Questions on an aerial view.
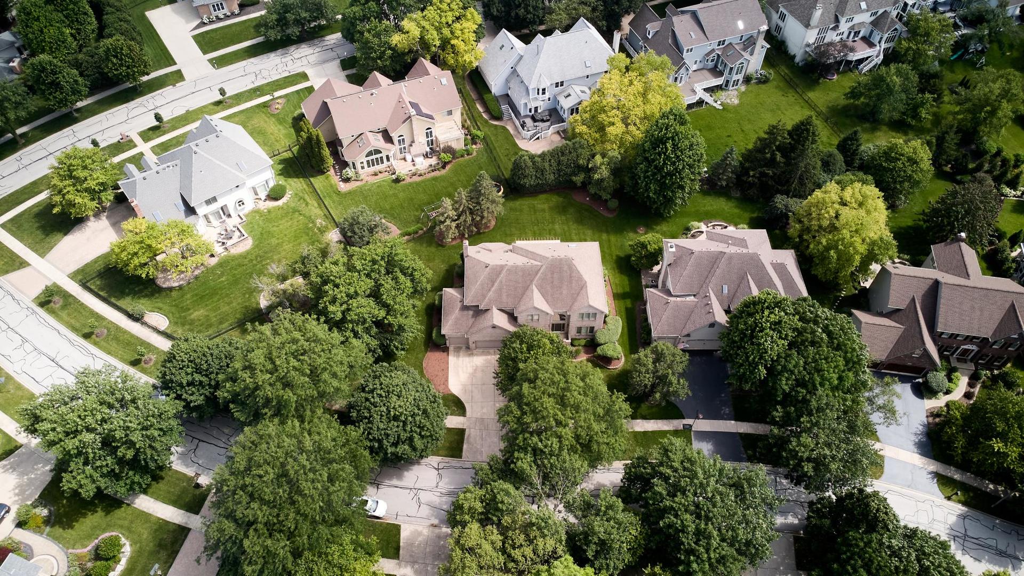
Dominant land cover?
trees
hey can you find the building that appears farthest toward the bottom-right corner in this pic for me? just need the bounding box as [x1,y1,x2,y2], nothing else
[853,224,1024,378]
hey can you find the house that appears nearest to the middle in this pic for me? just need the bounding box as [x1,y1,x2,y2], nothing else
[440,232,608,351]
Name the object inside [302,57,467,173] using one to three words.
house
